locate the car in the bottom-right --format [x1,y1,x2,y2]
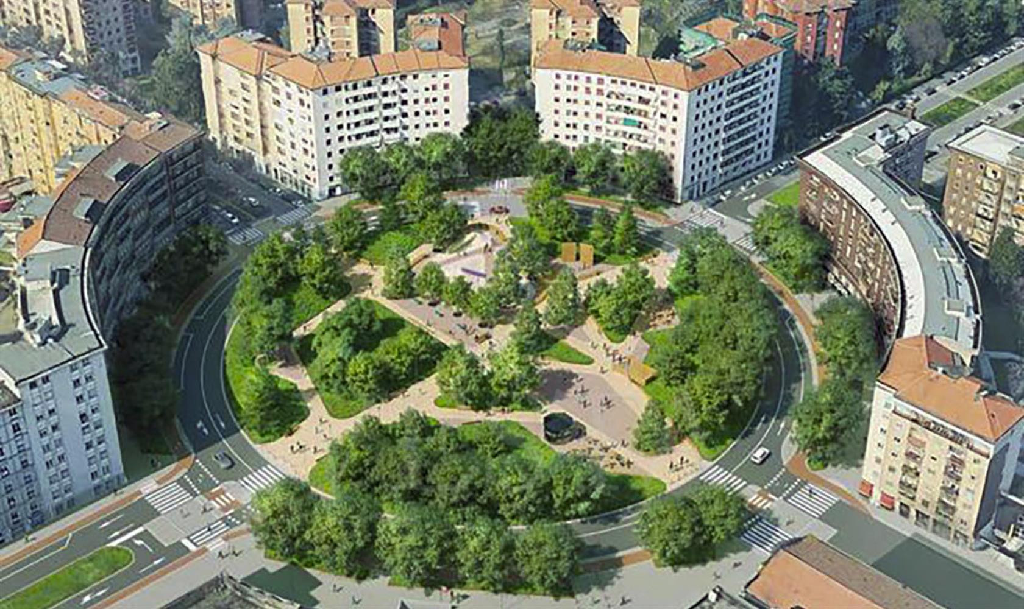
[750,446,770,463]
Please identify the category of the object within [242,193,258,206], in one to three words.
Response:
vehicle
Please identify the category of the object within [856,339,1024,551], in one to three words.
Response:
building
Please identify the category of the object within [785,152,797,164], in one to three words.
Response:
vehicle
